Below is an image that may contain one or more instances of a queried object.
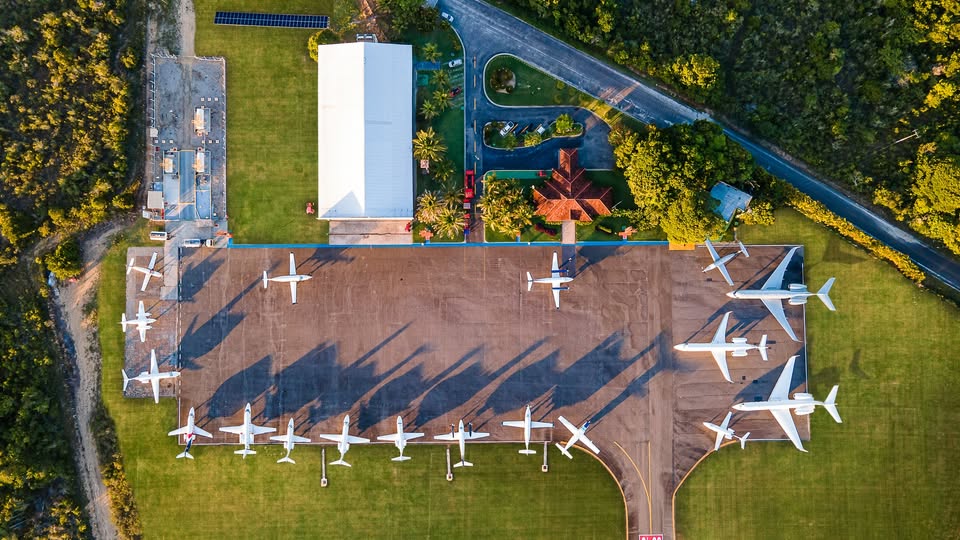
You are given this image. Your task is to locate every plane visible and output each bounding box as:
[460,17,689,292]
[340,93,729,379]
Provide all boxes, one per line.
[122,349,181,403]
[263,252,313,305]
[169,408,214,458]
[502,405,555,456]
[557,414,599,456]
[121,301,156,342]
[269,419,311,464]
[727,246,834,343]
[704,412,750,451]
[528,252,573,309]
[128,251,163,292]
[433,421,491,470]
[319,415,368,471]
[220,404,278,459]
[700,239,750,286]
[731,352,841,453]
[378,416,425,461]
[674,310,765,382]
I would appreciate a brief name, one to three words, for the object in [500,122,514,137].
car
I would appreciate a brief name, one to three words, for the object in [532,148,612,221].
building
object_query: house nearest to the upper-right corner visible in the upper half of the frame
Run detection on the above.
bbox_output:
[704,182,752,222]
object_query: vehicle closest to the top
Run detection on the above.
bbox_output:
[441,10,456,23]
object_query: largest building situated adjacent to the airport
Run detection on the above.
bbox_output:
[313,40,415,219]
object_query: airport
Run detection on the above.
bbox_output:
[125,219,810,540]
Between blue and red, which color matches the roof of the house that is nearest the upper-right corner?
blue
